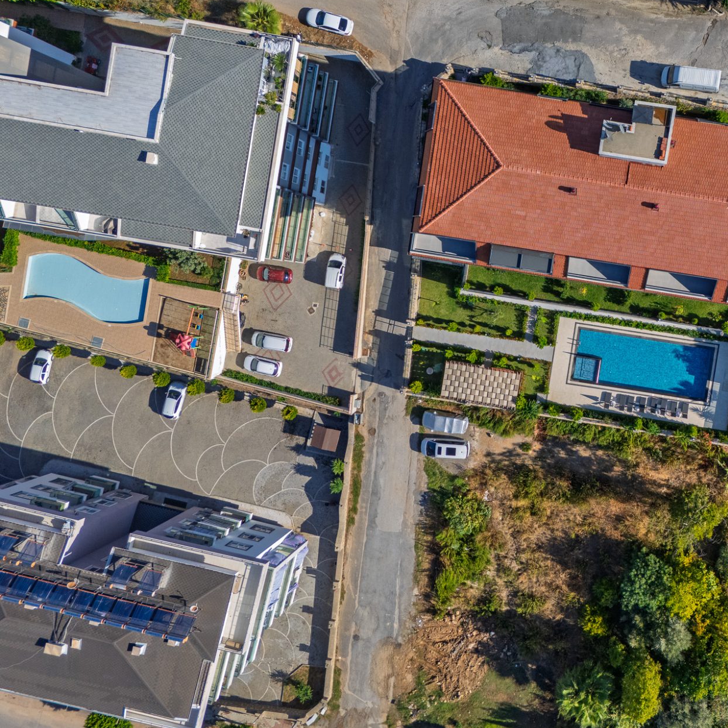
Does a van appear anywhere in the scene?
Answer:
Yes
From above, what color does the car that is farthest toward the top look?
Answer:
white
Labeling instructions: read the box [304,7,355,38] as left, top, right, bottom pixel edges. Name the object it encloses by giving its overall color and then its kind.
white car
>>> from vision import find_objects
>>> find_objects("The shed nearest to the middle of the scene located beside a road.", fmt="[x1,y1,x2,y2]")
[306,410,351,458]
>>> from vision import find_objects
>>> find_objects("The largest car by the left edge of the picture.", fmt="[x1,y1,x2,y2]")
[24,349,57,386]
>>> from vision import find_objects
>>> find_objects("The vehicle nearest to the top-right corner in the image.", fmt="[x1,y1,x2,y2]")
[661,63,722,94]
